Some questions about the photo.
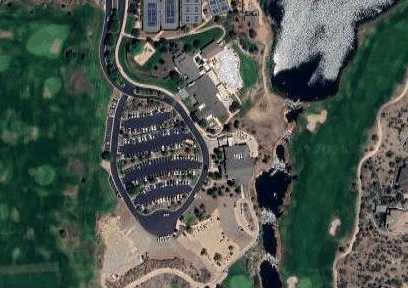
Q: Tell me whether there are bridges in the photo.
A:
No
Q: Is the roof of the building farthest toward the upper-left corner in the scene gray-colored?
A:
Yes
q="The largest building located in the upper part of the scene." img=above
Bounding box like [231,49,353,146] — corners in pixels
[173,41,229,129]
